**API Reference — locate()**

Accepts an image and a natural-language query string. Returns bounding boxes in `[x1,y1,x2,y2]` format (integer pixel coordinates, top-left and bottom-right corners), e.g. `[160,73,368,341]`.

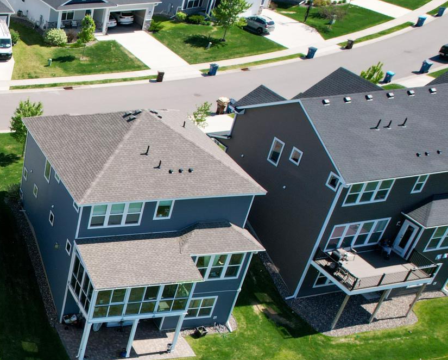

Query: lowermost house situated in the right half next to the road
[209,60,448,329]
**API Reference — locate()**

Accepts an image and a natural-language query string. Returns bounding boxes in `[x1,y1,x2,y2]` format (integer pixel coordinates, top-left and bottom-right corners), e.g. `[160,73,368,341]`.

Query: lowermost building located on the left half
[22,106,267,360]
